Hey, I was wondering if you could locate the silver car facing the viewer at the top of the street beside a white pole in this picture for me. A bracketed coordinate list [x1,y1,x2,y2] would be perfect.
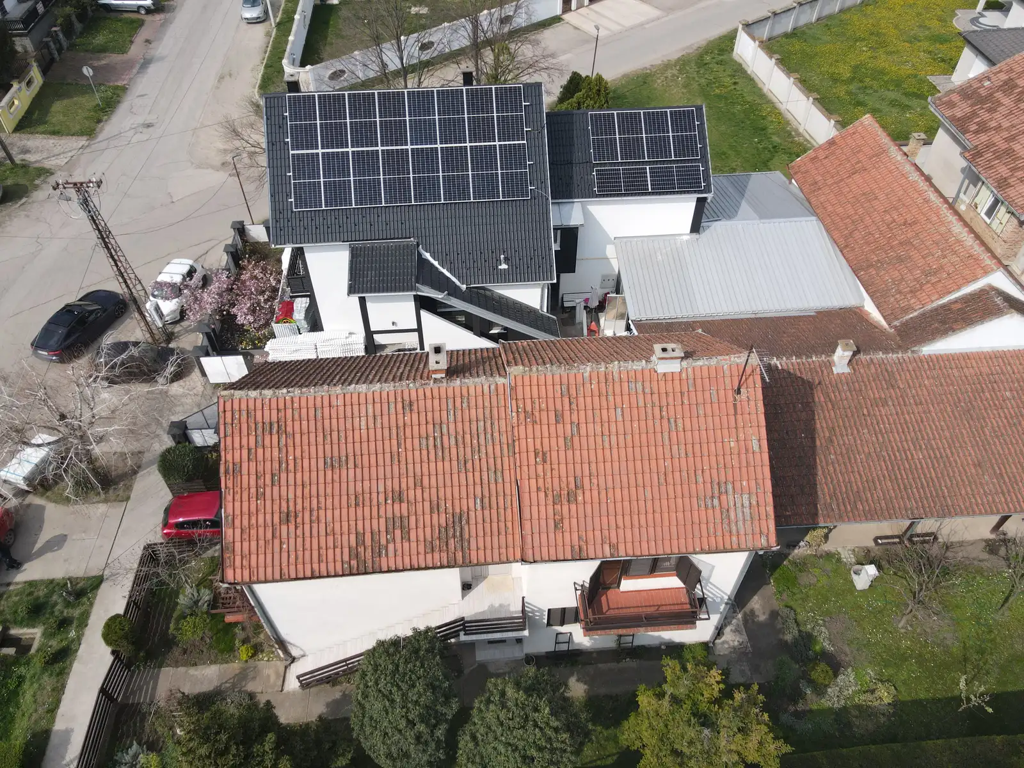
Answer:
[241,0,275,21]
